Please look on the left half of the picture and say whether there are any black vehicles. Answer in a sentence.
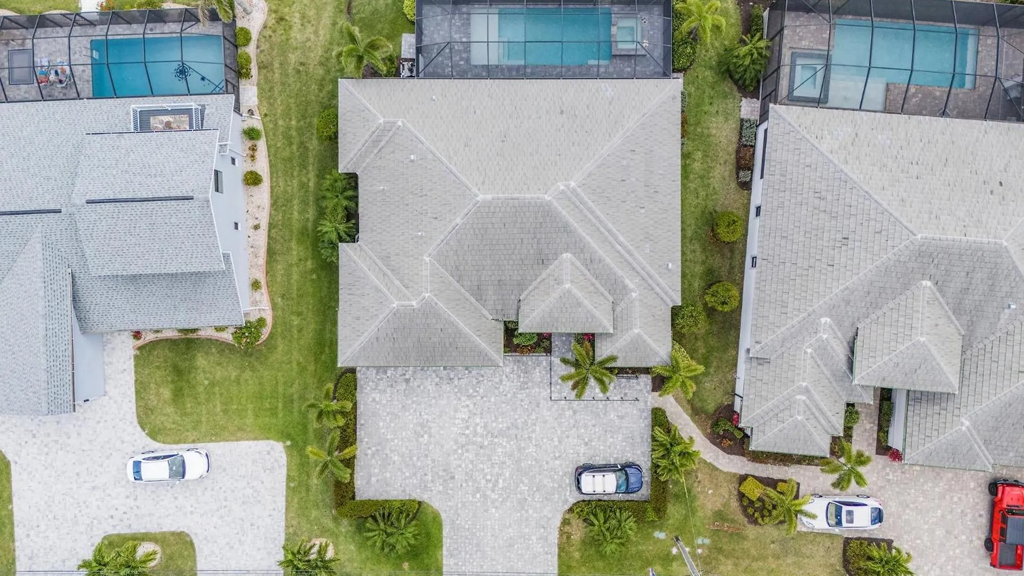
No, on the left half of the picture there is no black vehicle.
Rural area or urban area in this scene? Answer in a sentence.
This place is urban.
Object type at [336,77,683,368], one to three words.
house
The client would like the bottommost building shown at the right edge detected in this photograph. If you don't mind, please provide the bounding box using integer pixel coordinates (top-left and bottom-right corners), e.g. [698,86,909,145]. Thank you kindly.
[731,104,1024,473]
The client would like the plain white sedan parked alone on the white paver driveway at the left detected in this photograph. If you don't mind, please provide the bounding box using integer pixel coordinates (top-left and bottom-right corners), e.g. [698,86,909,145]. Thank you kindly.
[128,446,213,486]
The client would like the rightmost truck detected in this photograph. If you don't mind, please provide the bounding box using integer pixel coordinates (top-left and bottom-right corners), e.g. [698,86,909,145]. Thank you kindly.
[982,475,1024,569]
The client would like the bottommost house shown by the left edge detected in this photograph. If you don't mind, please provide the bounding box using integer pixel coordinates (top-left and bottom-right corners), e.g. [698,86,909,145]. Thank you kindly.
[0,94,270,416]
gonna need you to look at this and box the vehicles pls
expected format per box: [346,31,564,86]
[796,491,881,533]
[982,475,1024,569]
[128,446,213,486]
[575,459,644,500]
